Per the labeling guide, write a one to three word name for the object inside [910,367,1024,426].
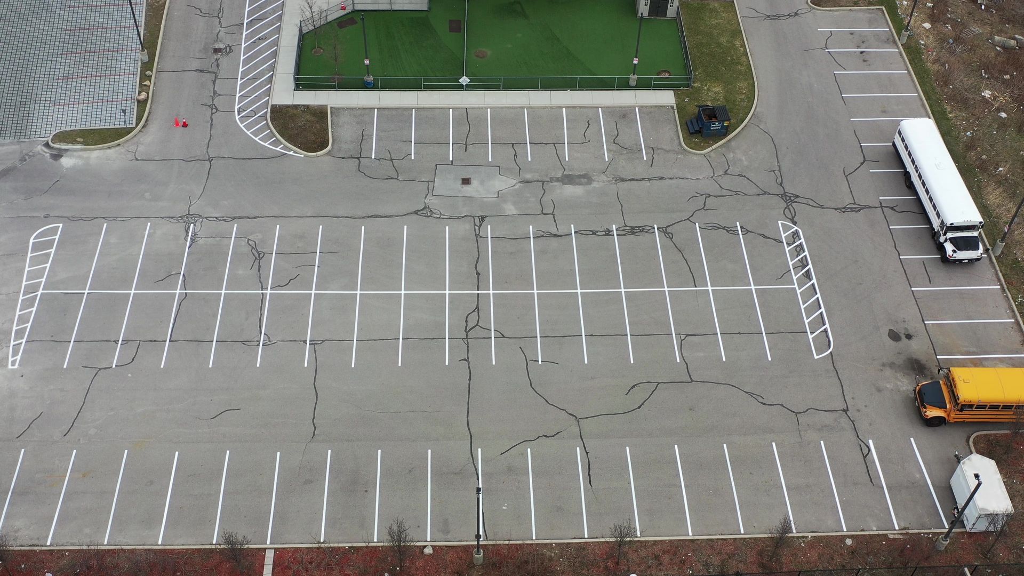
bus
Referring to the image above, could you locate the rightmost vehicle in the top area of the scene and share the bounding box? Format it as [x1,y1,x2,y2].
[891,119,994,264]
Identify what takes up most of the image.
paved ground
